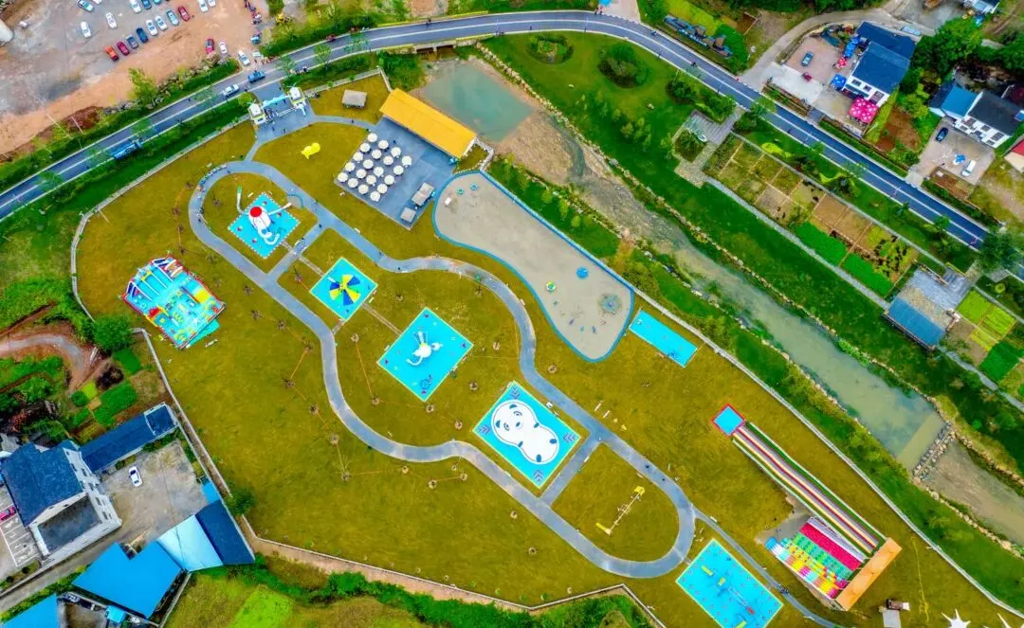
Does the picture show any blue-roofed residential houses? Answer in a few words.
Yes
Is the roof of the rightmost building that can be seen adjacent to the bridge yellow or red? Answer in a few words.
yellow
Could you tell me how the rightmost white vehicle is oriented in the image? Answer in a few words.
at an angle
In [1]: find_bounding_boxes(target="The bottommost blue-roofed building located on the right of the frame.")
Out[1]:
[884,297,946,347]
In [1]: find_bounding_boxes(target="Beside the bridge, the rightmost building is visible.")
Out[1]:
[380,89,475,159]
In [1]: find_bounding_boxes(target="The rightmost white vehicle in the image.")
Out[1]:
[959,155,980,179]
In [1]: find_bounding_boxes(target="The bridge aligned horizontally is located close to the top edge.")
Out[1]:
[371,0,494,50]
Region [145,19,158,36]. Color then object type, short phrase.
white vehicle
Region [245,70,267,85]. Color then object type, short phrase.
blue vehicle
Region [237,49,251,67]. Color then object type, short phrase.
white car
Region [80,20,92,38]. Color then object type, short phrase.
white vehicle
